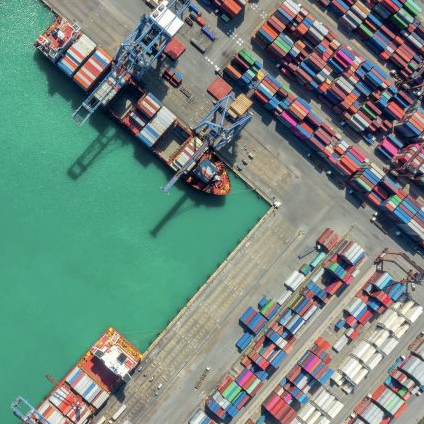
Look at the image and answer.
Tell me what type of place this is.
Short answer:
port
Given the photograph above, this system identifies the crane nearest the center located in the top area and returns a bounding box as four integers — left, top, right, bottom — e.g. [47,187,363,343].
[163,75,267,192]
